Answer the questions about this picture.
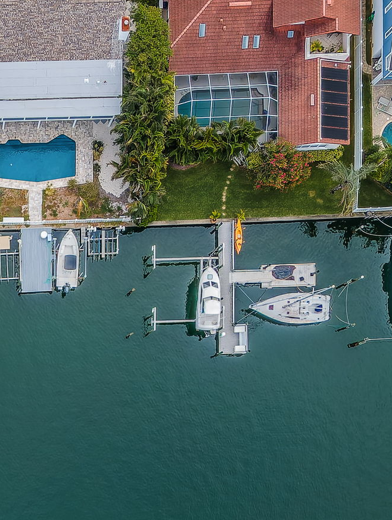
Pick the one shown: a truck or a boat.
boat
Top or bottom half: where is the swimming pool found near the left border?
top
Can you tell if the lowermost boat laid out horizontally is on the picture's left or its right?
right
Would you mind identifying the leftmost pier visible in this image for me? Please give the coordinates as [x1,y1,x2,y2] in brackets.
[19,227,52,294]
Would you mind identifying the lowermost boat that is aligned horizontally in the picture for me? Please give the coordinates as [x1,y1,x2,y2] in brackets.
[249,288,337,324]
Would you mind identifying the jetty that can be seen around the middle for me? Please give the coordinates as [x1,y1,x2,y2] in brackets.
[214,220,249,353]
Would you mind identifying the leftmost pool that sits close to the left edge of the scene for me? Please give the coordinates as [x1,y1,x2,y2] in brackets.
[0,131,79,184]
